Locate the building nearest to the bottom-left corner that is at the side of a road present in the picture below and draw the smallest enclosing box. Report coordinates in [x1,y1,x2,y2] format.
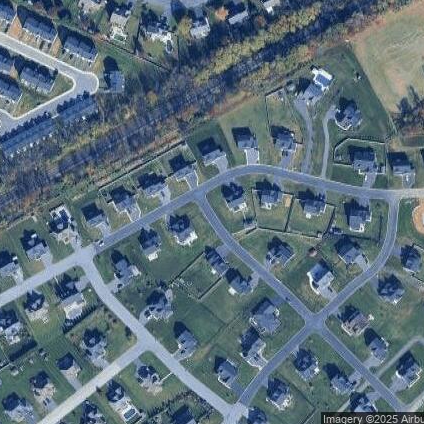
[5,402,33,424]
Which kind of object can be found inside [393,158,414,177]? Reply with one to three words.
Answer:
house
